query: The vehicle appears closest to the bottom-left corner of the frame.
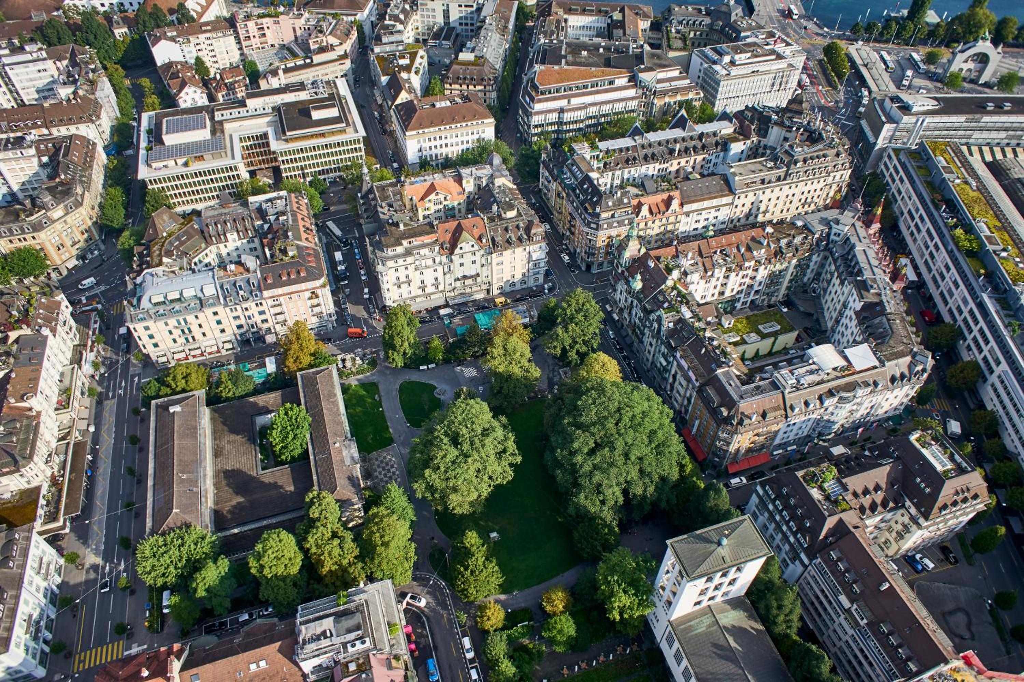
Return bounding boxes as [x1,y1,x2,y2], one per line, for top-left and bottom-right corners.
[99,574,111,594]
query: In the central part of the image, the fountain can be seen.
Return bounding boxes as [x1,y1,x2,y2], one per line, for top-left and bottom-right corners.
[431,383,450,398]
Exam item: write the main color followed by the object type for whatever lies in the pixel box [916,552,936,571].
white car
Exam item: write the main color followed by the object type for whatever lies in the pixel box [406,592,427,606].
white car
